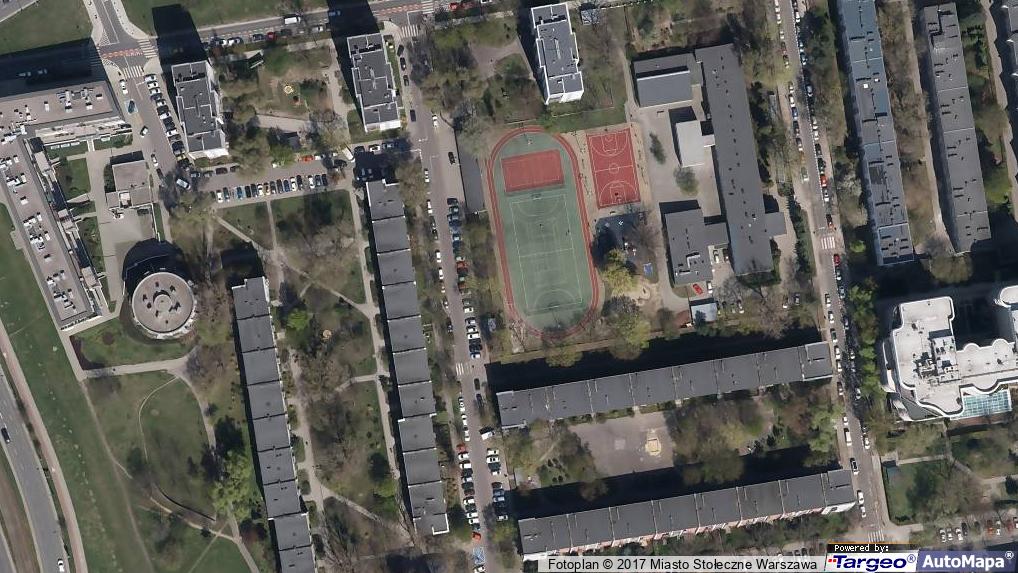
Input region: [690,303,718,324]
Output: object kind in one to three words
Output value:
shed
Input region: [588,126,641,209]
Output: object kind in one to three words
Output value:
basketball court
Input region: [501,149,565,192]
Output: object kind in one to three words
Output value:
tennis court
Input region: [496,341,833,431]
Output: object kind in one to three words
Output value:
building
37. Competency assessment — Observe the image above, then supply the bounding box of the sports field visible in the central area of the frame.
[496,135,589,330]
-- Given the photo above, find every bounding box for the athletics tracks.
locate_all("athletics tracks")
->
[487,127,596,338]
